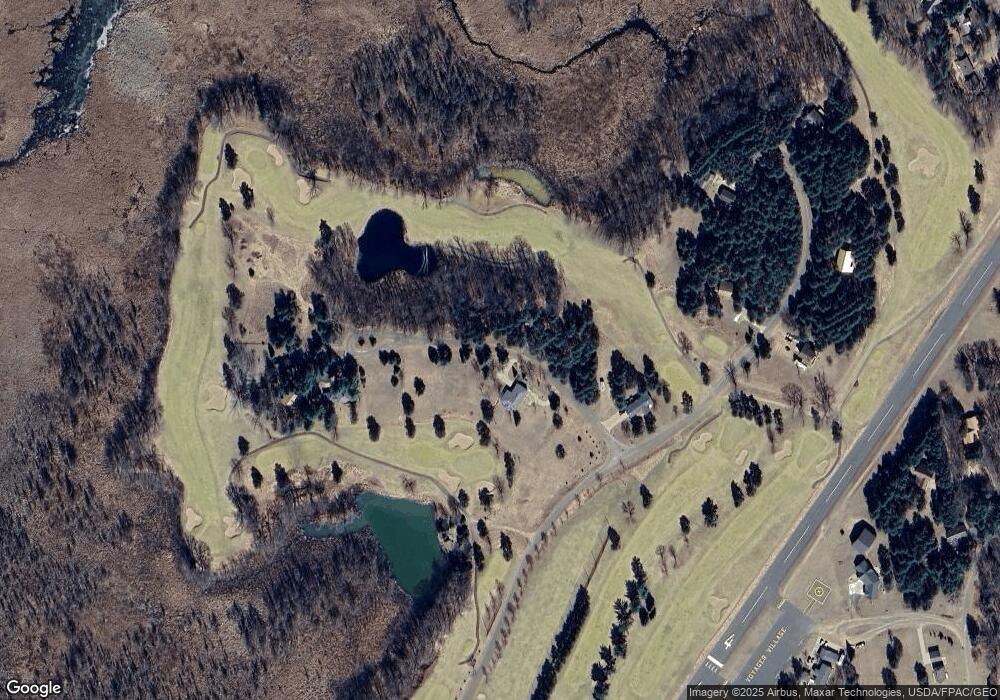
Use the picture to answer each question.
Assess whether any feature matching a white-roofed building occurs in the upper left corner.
No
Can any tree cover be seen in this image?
Yes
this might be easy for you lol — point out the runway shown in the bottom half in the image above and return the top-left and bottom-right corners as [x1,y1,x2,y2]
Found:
[680,231,1000,700]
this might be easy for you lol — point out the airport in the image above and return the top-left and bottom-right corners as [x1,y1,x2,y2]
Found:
[680,231,1000,700]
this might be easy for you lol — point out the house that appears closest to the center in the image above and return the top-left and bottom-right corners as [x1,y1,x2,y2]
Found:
[501,380,527,410]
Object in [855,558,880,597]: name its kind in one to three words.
house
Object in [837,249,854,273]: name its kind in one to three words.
house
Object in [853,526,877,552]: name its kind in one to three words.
hangar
